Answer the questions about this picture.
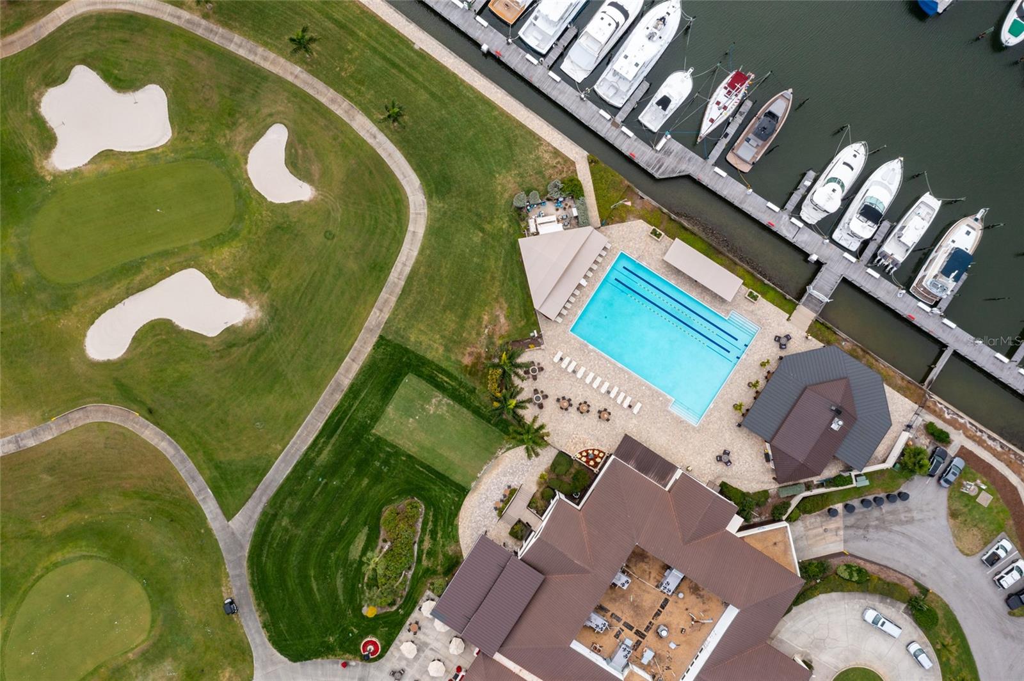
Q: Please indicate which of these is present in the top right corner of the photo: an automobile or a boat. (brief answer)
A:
boat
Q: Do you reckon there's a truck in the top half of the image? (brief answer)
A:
No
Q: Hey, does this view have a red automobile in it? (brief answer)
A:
No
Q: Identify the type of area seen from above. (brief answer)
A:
golf course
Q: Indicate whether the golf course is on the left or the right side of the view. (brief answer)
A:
left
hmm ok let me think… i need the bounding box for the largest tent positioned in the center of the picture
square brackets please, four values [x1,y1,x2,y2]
[518,226,609,321]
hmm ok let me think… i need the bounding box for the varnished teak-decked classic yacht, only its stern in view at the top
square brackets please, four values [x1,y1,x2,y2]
[490,0,531,26]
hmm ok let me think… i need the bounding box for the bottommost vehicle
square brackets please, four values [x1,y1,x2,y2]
[904,638,935,673]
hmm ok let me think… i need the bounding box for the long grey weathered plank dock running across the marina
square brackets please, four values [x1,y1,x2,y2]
[422,0,1024,396]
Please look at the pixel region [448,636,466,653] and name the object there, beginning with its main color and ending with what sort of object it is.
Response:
white umbrella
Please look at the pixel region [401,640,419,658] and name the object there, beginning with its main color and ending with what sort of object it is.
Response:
white umbrella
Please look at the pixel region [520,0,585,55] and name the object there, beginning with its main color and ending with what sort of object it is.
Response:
white boat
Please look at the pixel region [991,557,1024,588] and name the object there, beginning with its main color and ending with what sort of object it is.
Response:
white car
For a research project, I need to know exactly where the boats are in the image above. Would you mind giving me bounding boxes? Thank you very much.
[999,0,1024,47]
[639,64,695,133]
[907,202,996,305]
[520,0,585,55]
[729,88,794,172]
[697,69,752,143]
[834,153,908,252]
[594,0,684,108]
[875,190,945,268]
[559,0,644,85]
[490,0,531,26]
[797,139,871,226]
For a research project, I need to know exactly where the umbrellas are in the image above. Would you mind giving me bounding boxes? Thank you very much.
[448,636,466,653]
[401,640,419,658]
[434,618,449,631]
[421,598,437,616]
[428,658,445,676]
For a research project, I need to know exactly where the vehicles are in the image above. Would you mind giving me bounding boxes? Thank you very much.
[222,597,239,617]
[904,638,935,673]
[858,606,903,638]
[991,557,1024,588]
[1002,587,1024,609]
[936,454,966,489]
[976,535,1013,570]
[927,444,950,479]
